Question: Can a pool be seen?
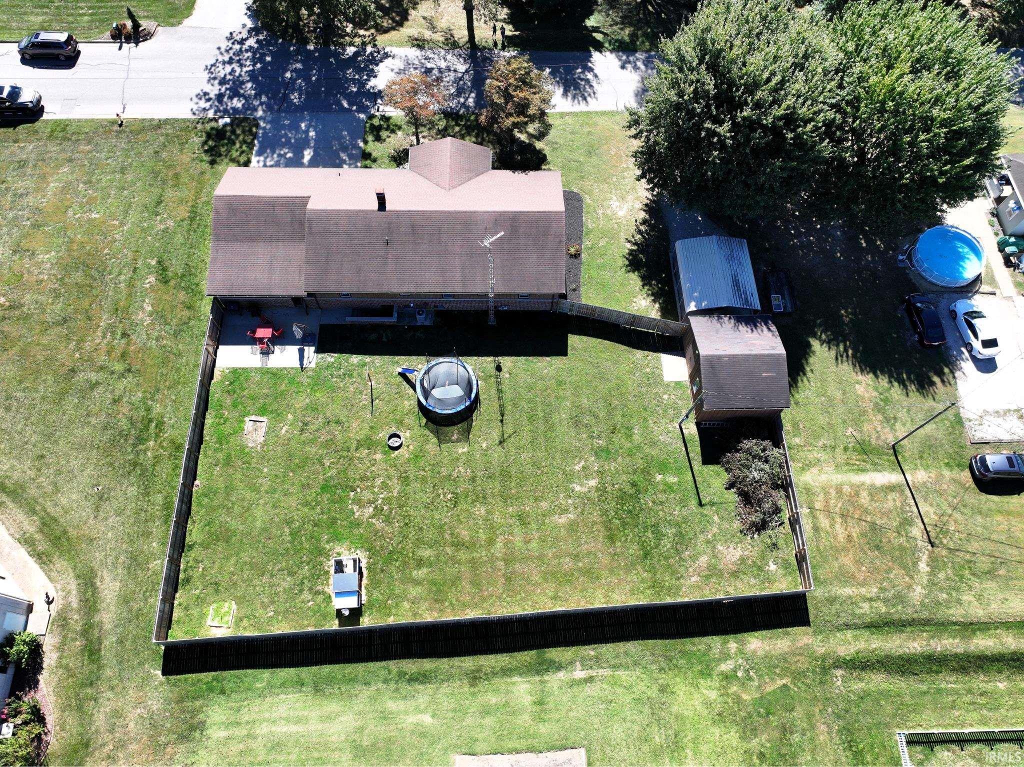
Yes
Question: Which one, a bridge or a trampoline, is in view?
trampoline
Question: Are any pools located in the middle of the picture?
No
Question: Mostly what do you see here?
grass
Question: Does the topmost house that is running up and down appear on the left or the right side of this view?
right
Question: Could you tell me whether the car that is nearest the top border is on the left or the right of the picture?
left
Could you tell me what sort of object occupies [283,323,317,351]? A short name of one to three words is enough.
umbrella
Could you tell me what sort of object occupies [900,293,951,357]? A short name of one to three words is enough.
car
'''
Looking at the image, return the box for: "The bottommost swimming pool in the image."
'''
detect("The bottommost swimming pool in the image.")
[900,224,985,297]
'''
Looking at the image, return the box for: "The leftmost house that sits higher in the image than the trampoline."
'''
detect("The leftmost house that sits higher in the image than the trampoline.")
[208,134,566,322]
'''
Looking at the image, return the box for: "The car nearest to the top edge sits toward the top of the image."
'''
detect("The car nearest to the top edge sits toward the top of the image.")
[13,34,84,67]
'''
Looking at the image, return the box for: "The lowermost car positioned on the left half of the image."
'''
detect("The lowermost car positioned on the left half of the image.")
[0,86,49,117]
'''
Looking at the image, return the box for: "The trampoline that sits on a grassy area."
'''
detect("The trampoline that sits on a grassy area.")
[412,346,478,418]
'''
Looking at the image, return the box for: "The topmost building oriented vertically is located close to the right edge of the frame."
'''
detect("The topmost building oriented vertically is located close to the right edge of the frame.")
[990,151,1024,236]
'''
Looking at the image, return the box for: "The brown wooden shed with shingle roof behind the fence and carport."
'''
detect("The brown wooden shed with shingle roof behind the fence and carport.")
[684,313,792,423]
